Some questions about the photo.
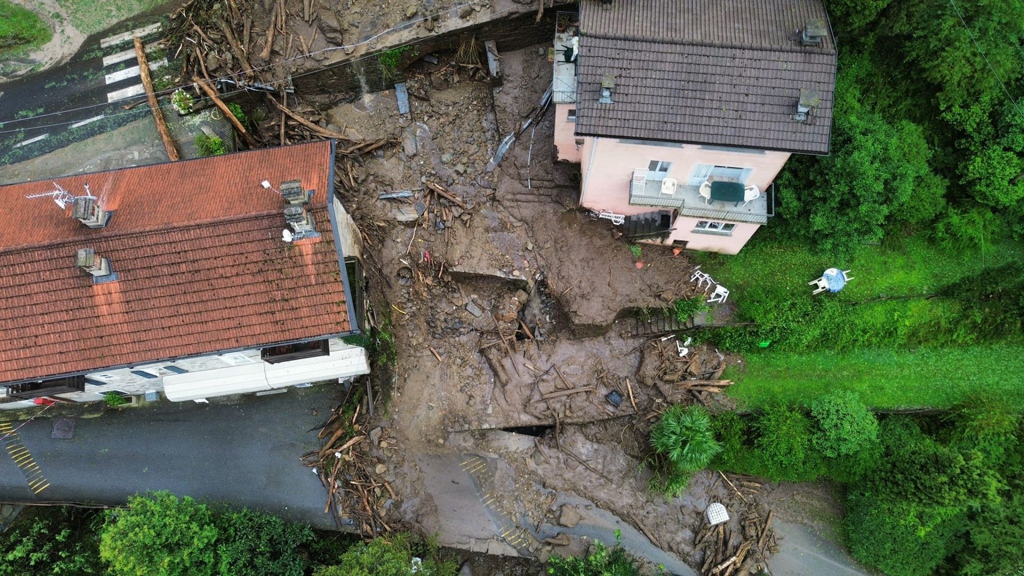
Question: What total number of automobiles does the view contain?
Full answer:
Not a single automobile can be seen.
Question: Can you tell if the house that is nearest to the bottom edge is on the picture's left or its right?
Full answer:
It is on the left.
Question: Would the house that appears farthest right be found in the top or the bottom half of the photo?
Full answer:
It is in the top half that the house that appears farthest right appears.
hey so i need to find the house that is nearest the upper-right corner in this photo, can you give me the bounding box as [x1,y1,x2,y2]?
[549,0,846,249]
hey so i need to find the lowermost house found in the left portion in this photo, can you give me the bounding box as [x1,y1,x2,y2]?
[0,136,380,413]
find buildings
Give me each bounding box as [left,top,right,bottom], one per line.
[549,0,846,249]
[0,136,380,413]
